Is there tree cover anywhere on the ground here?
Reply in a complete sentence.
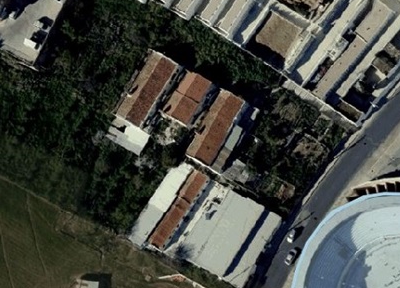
Yes, there's tree cover in this view.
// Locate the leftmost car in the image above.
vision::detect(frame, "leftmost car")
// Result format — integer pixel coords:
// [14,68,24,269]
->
[6,7,20,24]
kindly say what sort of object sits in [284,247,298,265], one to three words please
car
